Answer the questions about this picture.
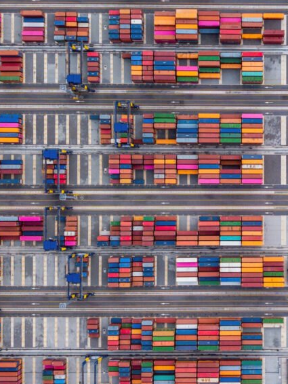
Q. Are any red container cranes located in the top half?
No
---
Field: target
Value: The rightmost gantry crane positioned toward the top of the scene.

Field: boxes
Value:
[113,101,141,147]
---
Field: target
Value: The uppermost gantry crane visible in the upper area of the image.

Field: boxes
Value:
[68,41,97,91]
